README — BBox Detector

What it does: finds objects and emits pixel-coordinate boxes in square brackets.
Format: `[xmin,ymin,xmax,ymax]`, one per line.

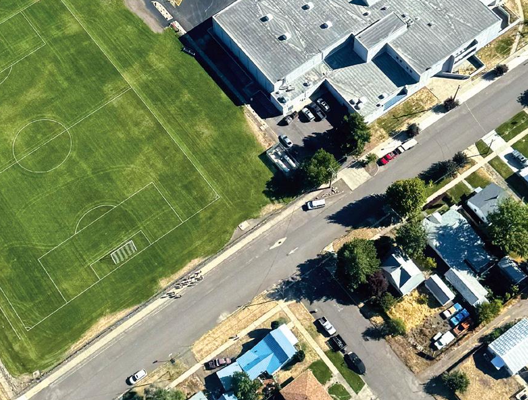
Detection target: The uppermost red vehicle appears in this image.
[379,150,397,165]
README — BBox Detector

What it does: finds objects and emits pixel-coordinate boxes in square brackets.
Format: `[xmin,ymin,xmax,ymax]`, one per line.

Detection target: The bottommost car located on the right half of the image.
[347,355,363,371]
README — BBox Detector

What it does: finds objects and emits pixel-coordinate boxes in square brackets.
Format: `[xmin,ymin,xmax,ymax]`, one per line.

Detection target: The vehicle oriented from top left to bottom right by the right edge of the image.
[510,148,528,164]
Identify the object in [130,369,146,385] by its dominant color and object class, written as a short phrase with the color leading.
white car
